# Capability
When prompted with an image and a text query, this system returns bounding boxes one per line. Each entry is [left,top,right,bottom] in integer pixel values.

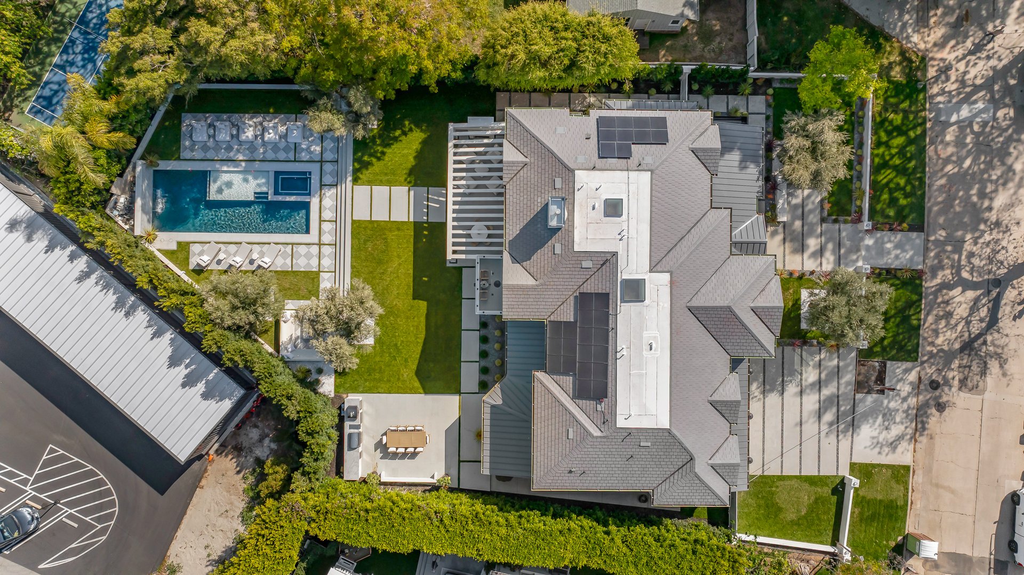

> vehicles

[1010,490,1024,568]
[0,506,38,556]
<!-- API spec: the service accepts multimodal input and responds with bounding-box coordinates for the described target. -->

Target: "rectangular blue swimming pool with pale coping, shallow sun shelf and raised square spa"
[133,160,321,249]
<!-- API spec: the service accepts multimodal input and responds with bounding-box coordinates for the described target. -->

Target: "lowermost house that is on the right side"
[477,97,784,508]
